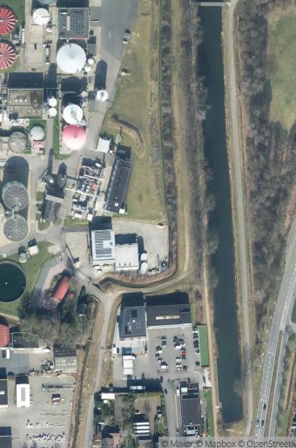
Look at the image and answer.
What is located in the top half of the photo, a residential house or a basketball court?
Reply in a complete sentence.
Looking in the top half of the photo, you will find a residential house.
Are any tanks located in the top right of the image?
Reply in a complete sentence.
No, no tank appears in the top right of the image.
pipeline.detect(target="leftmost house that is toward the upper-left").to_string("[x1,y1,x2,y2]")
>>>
[9,90,42,119]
